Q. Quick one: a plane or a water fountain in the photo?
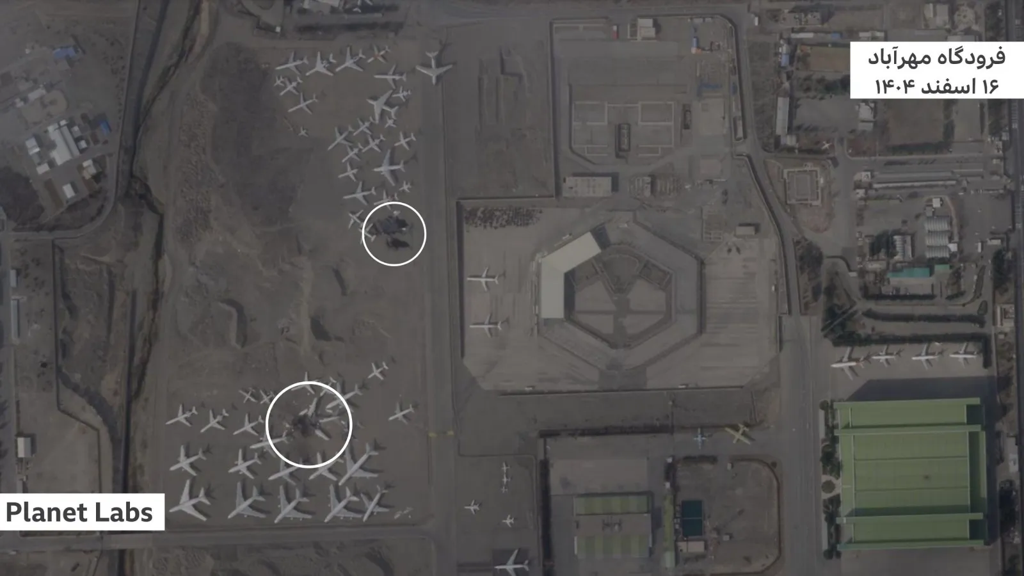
plane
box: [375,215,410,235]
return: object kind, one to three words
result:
airplane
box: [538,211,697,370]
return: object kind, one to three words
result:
building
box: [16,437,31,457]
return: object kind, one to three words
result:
house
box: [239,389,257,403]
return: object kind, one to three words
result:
airplane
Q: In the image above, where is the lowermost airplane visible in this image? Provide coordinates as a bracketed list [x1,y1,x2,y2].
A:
[494,549,529,576]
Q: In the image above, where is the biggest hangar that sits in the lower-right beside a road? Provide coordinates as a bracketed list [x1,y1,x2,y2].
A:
[835,398,989,550]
